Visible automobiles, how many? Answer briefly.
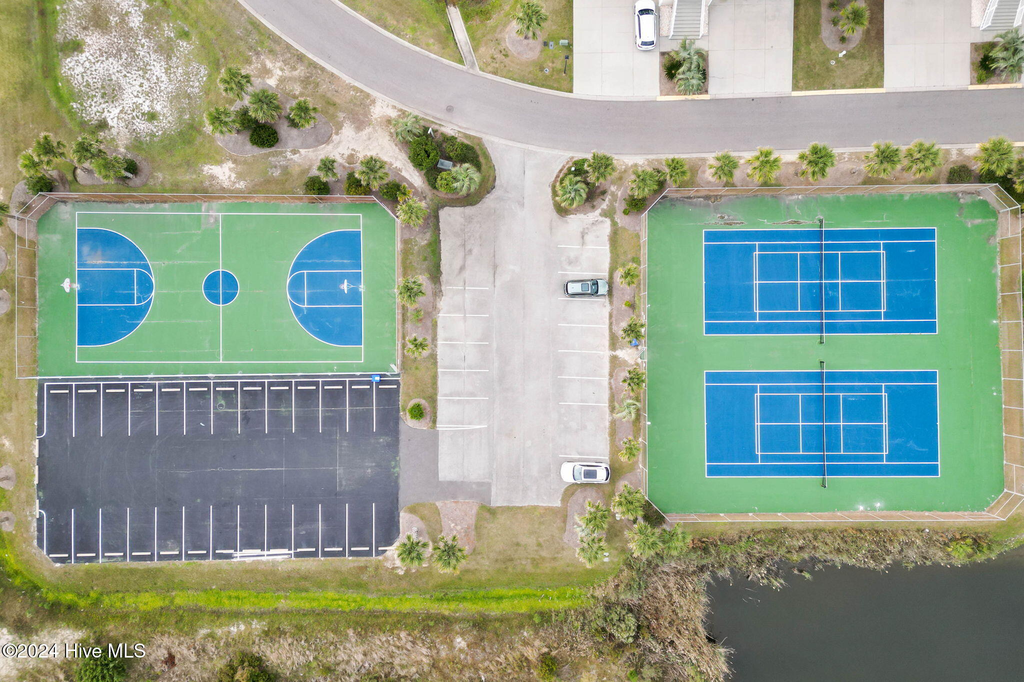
3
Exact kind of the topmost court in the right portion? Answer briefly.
tennis court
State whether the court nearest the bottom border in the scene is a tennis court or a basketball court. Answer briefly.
tennis court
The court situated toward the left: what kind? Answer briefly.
basketball court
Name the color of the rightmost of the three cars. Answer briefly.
white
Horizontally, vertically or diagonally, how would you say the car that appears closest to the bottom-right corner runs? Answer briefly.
horizontally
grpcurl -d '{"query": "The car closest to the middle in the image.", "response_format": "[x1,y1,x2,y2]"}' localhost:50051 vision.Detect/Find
[563,277,609,297]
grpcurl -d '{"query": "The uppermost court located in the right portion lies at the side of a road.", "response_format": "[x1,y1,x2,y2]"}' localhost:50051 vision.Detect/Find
[645,193,1001,353]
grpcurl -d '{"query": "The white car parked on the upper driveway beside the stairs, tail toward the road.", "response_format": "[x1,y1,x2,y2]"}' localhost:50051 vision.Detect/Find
[635,2,657,49]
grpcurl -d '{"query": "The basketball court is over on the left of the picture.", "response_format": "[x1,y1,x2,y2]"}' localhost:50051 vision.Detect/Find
[37,201,400,381]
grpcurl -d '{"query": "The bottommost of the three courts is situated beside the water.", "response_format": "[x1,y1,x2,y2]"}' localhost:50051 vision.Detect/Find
[645,350,1004,513]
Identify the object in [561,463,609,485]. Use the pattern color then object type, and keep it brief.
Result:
white car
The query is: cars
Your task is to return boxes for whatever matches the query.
[563,277,609,297]
[635,2,657,49]
[561,463,609,485]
